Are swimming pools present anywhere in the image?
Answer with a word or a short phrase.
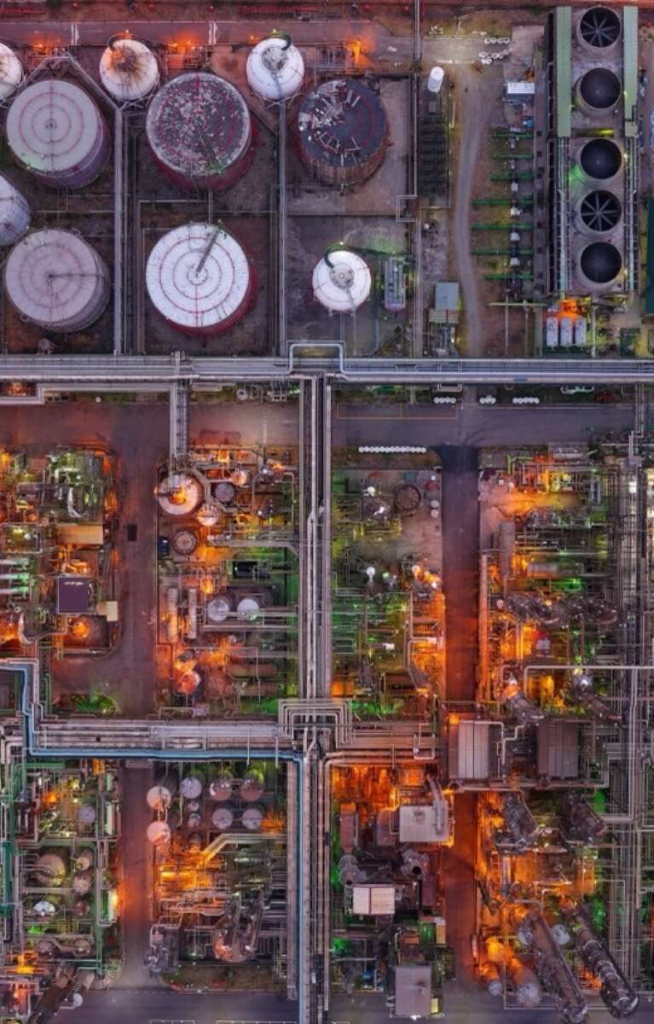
No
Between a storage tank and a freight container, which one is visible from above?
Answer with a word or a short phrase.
storage tank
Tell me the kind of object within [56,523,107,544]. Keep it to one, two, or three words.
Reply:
building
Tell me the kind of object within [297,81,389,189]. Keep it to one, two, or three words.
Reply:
storage tank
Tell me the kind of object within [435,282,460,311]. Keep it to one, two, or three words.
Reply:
building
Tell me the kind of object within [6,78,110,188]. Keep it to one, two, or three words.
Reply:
storage tank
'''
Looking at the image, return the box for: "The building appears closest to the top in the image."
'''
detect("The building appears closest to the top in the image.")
[506,82,535,97]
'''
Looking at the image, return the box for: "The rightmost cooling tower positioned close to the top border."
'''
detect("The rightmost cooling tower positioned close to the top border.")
[544,5,640,305]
